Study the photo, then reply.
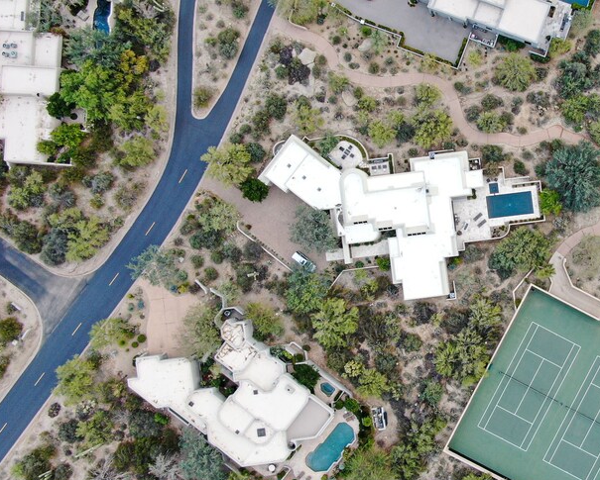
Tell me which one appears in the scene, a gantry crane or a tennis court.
tennis court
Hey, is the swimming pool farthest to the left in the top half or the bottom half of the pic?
top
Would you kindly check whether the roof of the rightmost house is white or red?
white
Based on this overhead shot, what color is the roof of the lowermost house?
white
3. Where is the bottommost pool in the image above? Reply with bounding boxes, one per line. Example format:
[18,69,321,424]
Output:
[303,421,356,474]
